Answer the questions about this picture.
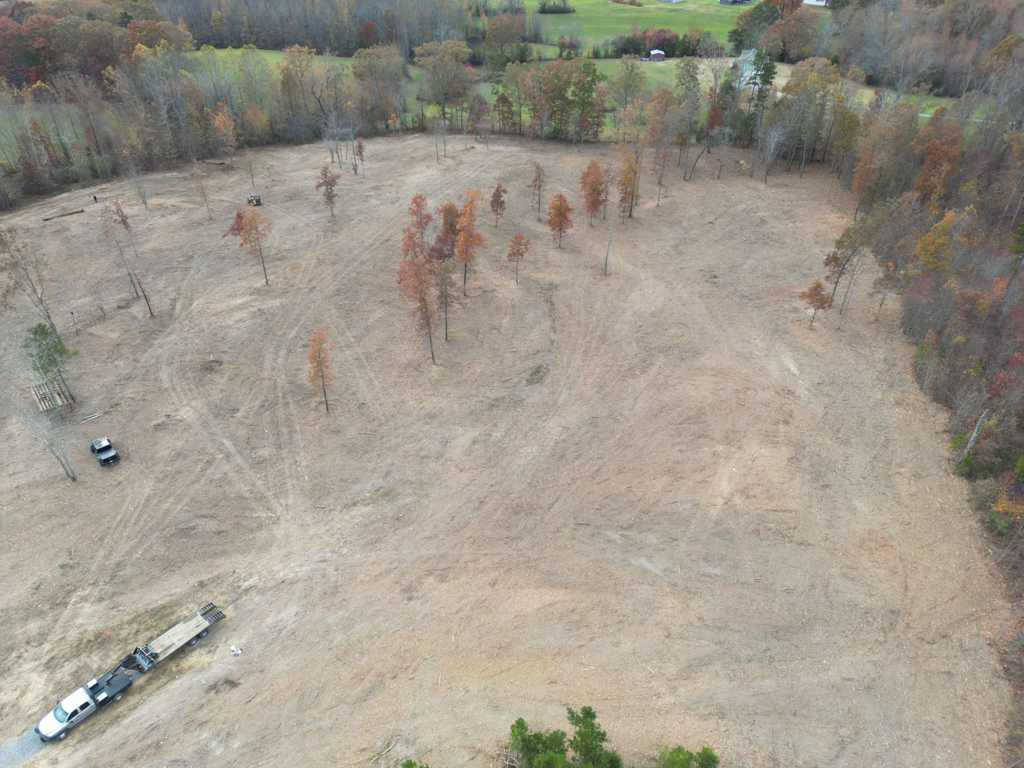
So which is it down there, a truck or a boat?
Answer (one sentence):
The one in the frame is a truck.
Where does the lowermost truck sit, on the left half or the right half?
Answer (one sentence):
It is on the left.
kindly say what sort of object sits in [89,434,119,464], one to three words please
truck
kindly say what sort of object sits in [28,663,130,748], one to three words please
truck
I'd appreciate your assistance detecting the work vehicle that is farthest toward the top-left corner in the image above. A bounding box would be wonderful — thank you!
[243,192,260,205]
